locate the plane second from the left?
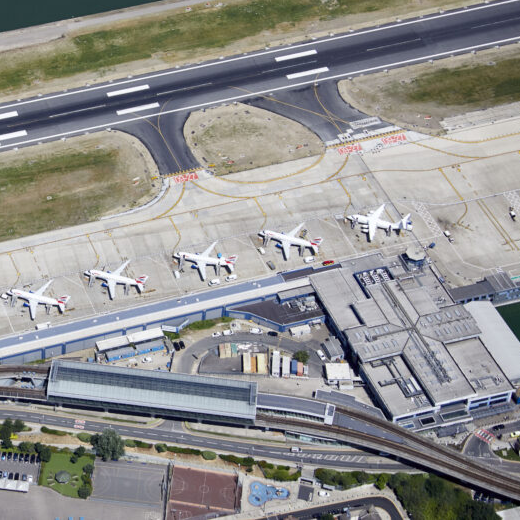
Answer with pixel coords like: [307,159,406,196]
[82,257,149,298]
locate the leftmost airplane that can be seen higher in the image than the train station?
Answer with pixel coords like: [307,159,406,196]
[6,277,73,318]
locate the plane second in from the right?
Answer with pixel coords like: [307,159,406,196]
[258,219,324,259]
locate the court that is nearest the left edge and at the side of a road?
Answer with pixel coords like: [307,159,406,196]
[92,460,170,520]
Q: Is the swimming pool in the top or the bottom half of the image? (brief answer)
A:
bottom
